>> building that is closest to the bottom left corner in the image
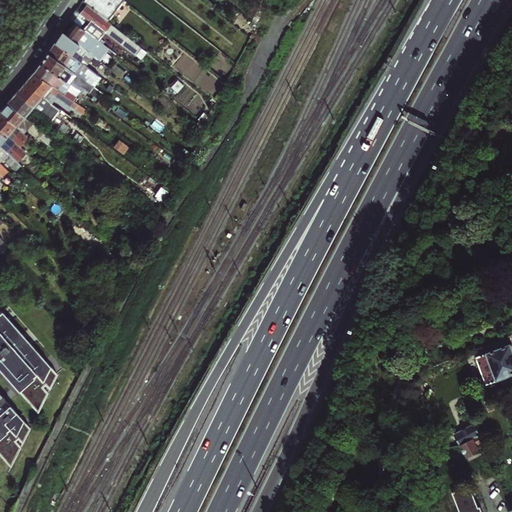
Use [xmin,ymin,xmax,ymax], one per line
[0,405,32,467]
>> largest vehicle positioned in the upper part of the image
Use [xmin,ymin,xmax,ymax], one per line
[362,116,384,150]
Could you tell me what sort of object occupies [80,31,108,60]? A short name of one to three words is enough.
house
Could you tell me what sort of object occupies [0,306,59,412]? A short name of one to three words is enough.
building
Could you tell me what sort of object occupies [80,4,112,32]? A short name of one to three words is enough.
house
